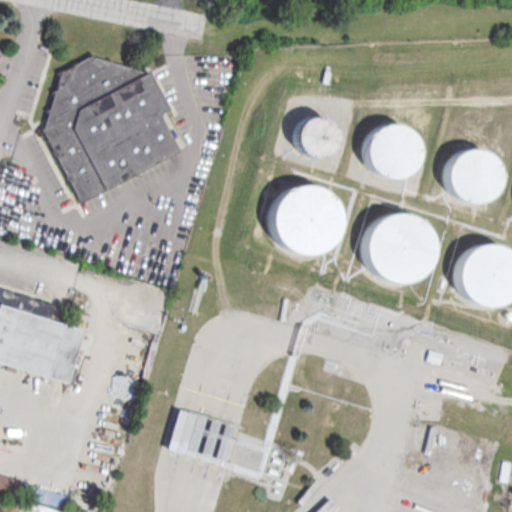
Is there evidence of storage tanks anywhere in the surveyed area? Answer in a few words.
Yes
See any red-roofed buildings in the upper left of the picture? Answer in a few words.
No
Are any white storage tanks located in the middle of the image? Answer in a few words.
Yes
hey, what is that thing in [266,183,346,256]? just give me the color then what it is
white storage tank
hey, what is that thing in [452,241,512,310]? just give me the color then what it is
white storage tank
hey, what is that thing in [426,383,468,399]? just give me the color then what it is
white vehicle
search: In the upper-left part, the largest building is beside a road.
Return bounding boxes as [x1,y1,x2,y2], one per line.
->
[44,57,181,203]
